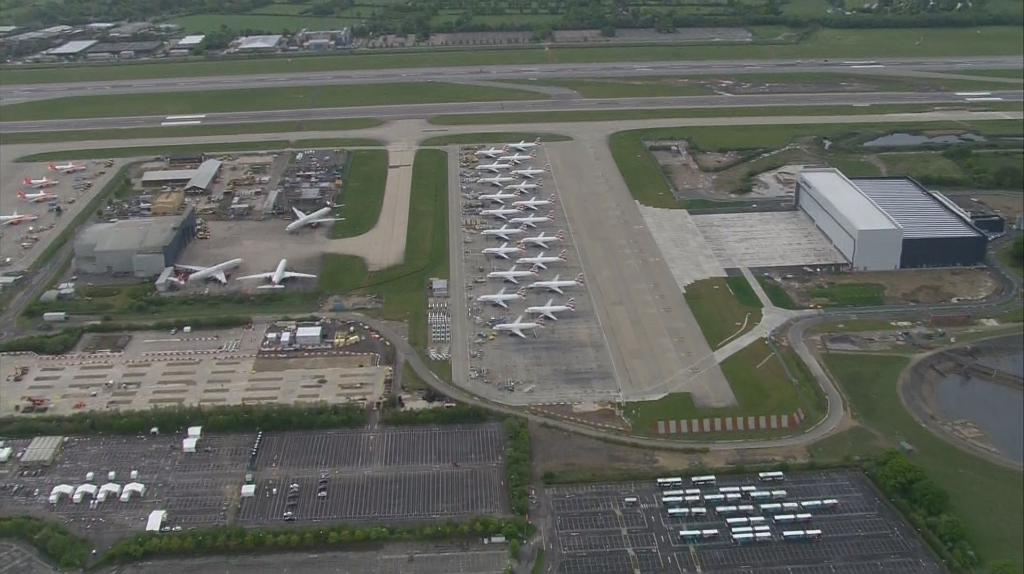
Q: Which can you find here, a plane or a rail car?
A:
plane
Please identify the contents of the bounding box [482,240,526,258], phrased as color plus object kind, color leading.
white airplane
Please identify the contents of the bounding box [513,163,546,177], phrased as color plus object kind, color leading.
white airplane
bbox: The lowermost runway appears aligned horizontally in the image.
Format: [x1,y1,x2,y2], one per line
[0,90,1024,132]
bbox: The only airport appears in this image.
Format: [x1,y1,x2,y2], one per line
[0,56,1024,408]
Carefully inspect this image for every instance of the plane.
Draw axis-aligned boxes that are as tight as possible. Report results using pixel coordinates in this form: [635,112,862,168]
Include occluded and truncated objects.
[174,259,242,284]
[509,211,550,227]
[478,171,515,185]
[529,274,578,294]
[525,298,576,320]
[51,161,86,173]
[475,158,511,172]
[519,194,552,209]
[505,177,543,192]
[479,188,517,203]
[487,264,534,283]
[475,144,505,157]
[480,202,520,218]
[477,285,526,307]
[493,315,545,337]
[287,197,338,232]
[482,240,526,258]
[516,249,561,268]
[481,222,523,239]
[507,137,537,149]
[525,229,565,247]
[21,189,57,202]
[24,175,59,188]
[513,163,546,177]
[238,259,313,287]
[498,150,532,163]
